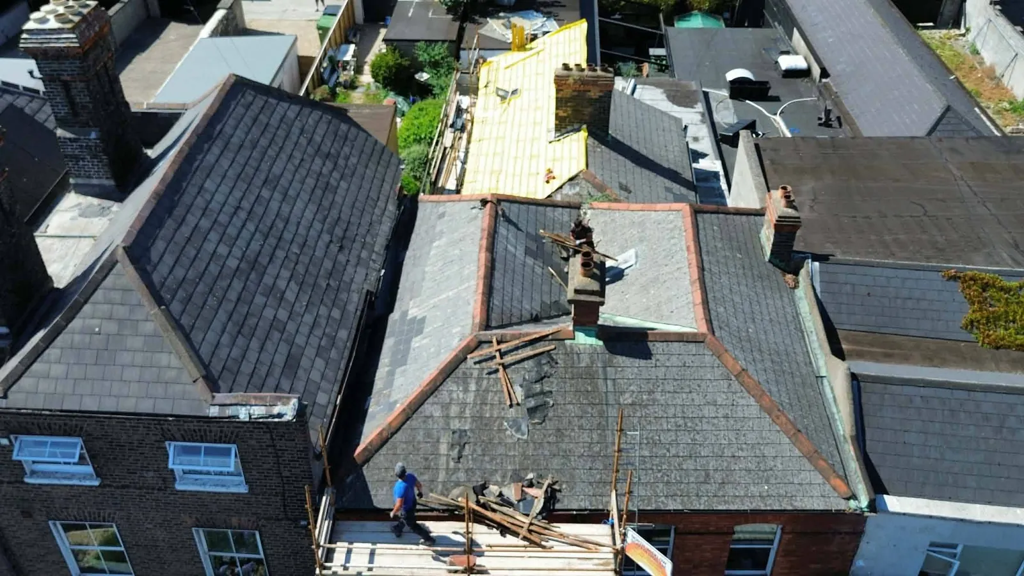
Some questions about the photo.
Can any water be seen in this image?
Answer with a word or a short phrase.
No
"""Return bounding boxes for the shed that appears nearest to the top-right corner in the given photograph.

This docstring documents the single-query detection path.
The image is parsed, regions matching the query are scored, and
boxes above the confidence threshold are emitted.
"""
[921,0,963,29]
